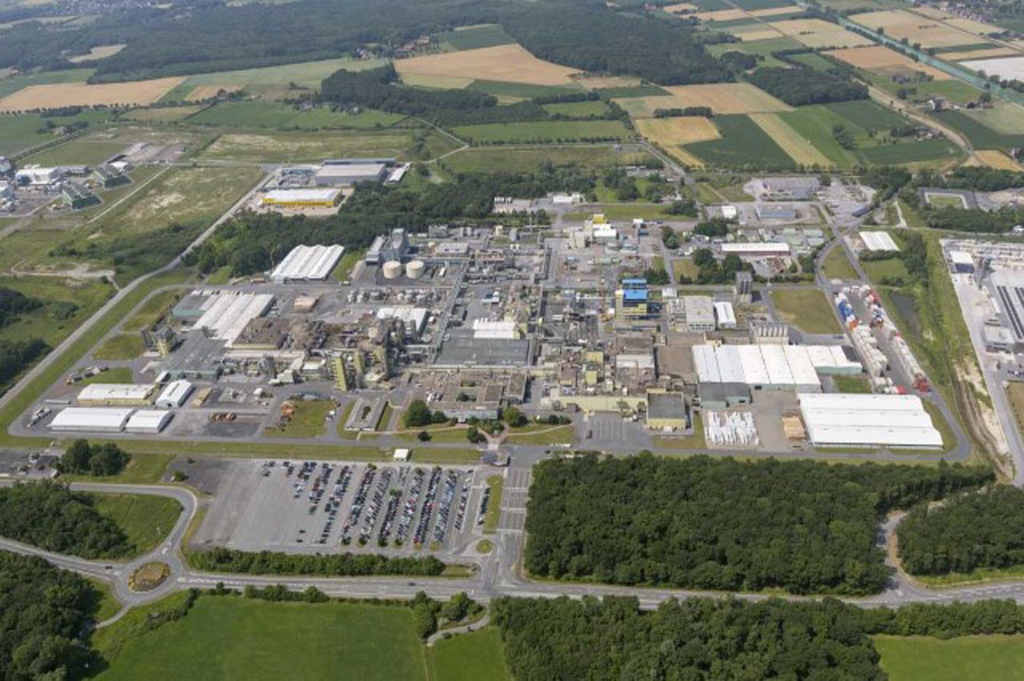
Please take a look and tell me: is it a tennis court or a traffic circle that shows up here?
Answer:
traffic circle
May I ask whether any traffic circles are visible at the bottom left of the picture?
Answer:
Yes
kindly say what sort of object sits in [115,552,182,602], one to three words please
roundabout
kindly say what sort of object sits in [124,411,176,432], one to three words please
building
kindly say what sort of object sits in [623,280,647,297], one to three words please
building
